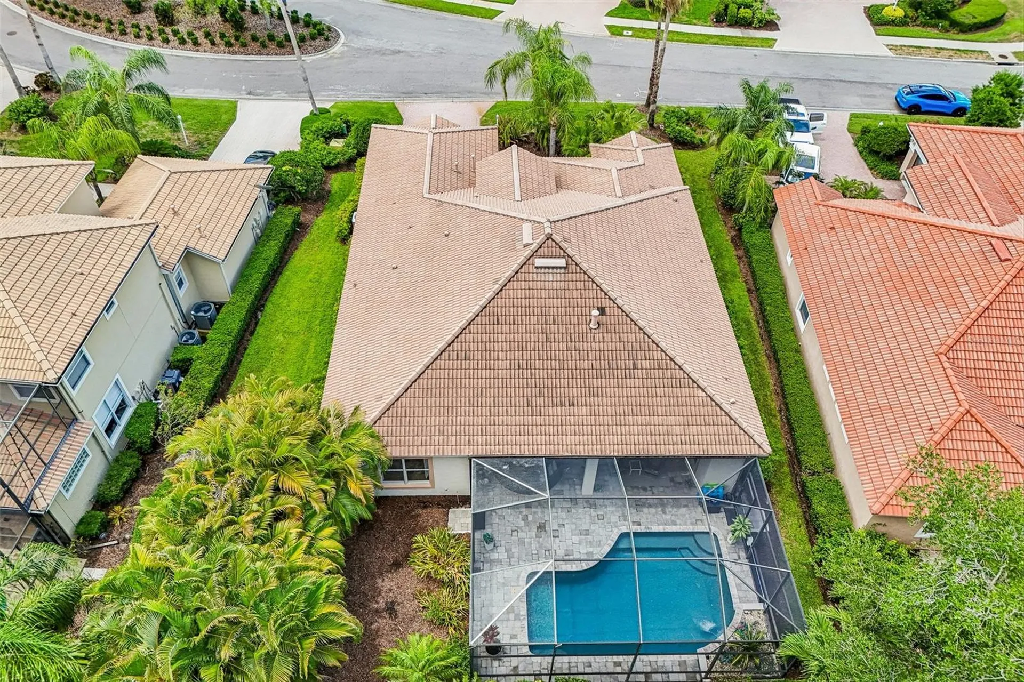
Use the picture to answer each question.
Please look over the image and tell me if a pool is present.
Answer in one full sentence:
Yes, the frame does contain a pool.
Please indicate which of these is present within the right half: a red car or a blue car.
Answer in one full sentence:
The feature located within the right half is a blue car.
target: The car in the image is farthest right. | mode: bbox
[894,79,970,113]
